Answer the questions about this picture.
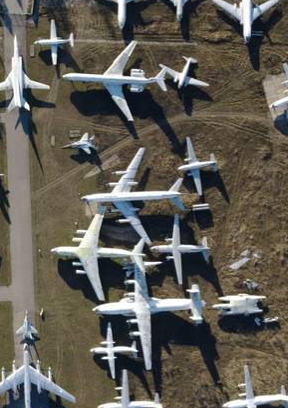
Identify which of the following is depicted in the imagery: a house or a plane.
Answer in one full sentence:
The one in the frame is a plane.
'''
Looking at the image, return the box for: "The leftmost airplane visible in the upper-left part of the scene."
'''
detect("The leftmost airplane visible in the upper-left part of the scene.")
[0,33,50,109]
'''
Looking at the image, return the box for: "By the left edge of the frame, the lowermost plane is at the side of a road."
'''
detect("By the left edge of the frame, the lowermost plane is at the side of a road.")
[0,344,76,408]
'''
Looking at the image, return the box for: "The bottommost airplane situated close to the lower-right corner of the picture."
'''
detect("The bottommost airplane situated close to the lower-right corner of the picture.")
[222,364,288,408]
